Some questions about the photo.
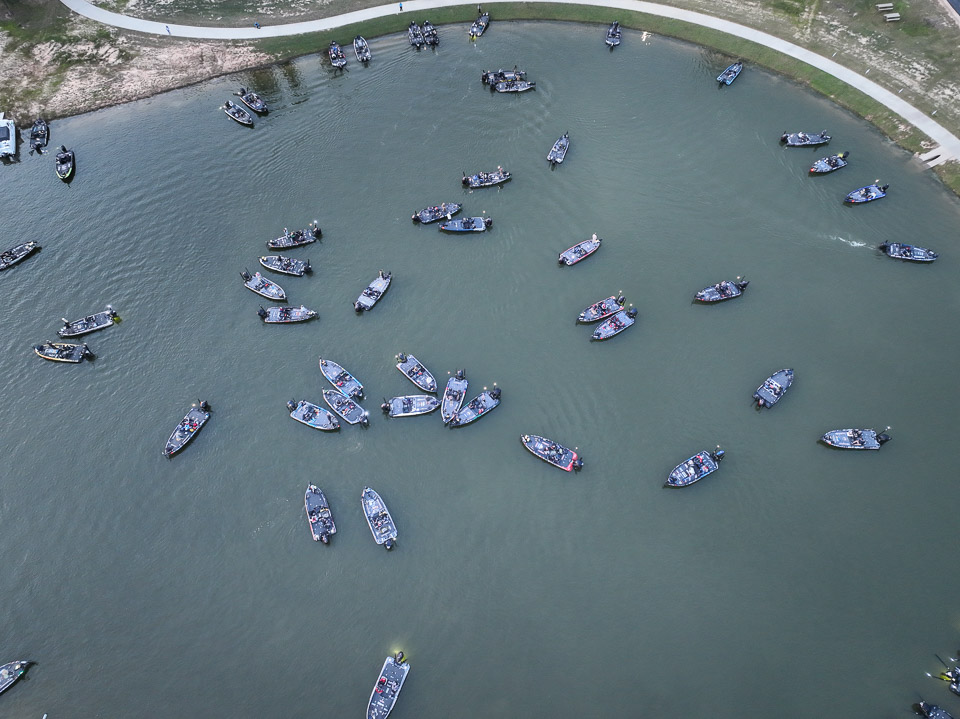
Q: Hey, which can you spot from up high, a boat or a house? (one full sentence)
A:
Looking from above, you can make out a boat.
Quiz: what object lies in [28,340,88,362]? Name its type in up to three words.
boat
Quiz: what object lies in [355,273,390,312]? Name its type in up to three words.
boat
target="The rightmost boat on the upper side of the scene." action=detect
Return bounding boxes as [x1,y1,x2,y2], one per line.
[884,243,938,262]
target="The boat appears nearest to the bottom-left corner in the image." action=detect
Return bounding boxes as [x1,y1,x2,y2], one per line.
[0,657,32,692]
